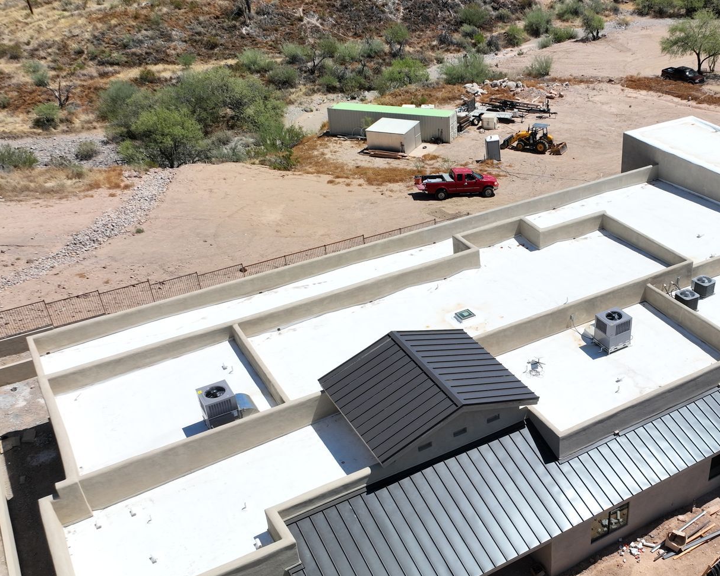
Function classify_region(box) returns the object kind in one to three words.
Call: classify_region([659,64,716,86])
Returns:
truck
